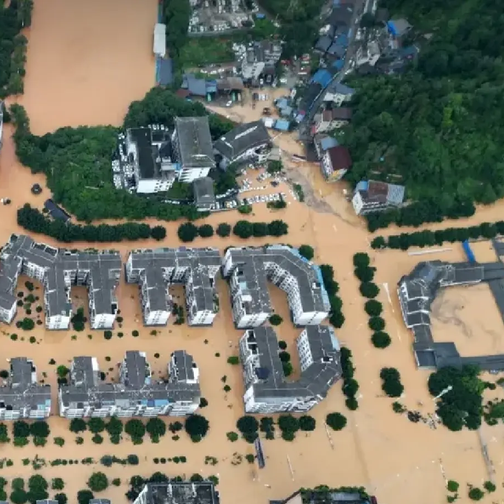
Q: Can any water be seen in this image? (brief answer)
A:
Yes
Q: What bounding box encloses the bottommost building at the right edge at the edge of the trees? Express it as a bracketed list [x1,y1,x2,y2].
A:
[392,239,504,376]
